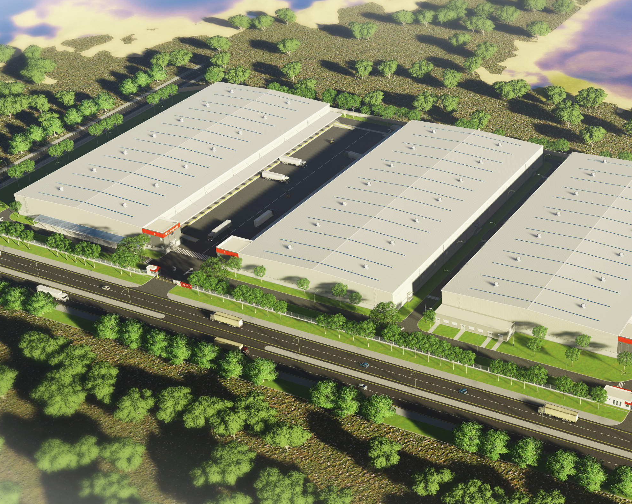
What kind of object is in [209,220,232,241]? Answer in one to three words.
vehicle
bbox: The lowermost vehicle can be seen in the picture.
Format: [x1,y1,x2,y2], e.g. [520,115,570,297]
[540,405,578,424]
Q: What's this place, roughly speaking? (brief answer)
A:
industrial area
